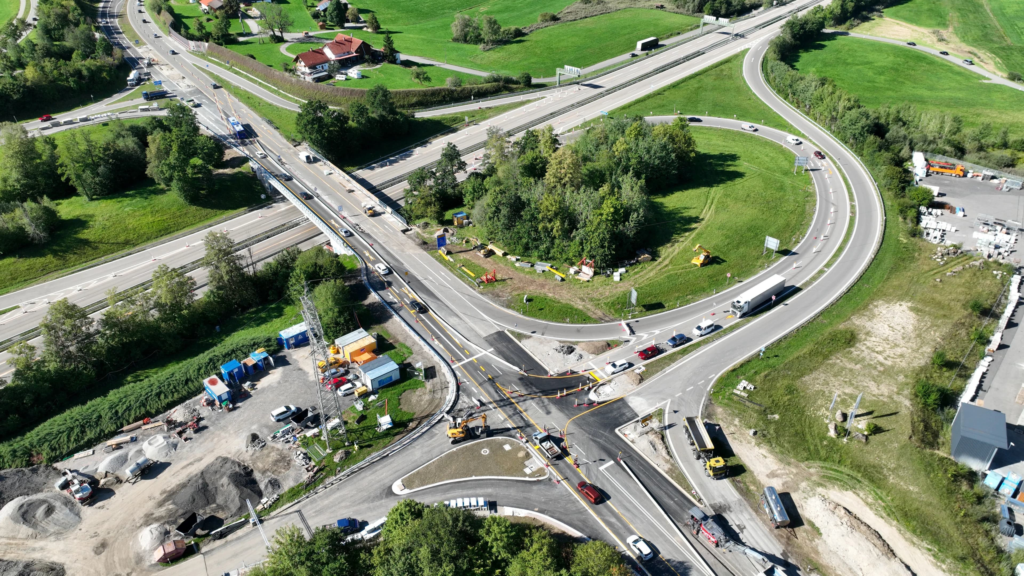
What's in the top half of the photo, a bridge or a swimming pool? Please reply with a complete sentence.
You can see a bridge in the top half of the photo.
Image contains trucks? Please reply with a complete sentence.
Yes, the picture does show a truck.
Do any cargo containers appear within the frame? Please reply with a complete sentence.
Yes, a cargo container is visible in the scene.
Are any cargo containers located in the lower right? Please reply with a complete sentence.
No, there is no cargo container in the lower right.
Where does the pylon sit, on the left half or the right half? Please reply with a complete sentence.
It is on the left.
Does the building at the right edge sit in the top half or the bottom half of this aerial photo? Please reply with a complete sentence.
It is in the bottom half that the building at the right edge appears.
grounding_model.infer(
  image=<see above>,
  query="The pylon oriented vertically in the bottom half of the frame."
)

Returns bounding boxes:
[306,285,356,460]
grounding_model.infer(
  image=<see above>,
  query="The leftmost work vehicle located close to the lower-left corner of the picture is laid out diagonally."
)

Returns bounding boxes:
[59,456,91,500]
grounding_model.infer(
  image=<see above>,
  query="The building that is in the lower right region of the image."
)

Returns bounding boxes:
[952,397,1012,472]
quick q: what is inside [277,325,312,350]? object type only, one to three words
shipping container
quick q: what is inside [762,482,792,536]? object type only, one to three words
trailer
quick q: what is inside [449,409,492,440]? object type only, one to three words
work vehicle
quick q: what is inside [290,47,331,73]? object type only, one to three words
house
